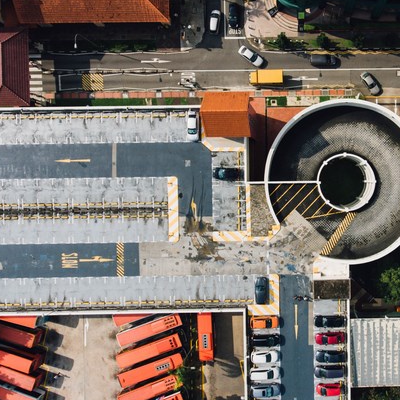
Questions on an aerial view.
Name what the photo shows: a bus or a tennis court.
bus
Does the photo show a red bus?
Yes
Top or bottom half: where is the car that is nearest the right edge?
top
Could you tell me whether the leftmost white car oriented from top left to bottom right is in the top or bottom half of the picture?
top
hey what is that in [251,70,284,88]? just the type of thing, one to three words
vehicle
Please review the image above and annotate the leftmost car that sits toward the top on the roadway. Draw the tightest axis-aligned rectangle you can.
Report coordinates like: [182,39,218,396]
[209,10,222,35]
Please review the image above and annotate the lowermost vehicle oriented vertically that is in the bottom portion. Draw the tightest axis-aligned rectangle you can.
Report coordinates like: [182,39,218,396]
[198,314,217,359]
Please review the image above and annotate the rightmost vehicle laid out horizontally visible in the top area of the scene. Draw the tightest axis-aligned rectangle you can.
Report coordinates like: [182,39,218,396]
[310,53,338,66]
